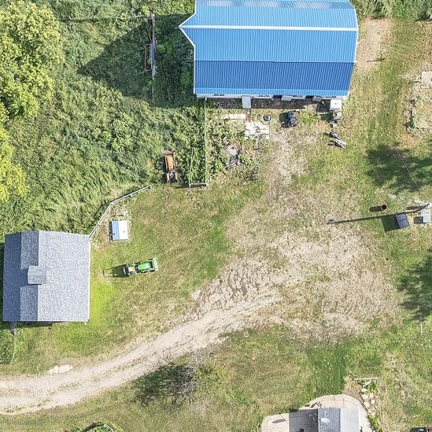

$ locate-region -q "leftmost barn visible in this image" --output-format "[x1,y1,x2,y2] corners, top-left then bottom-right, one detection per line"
[2,232,90,323]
